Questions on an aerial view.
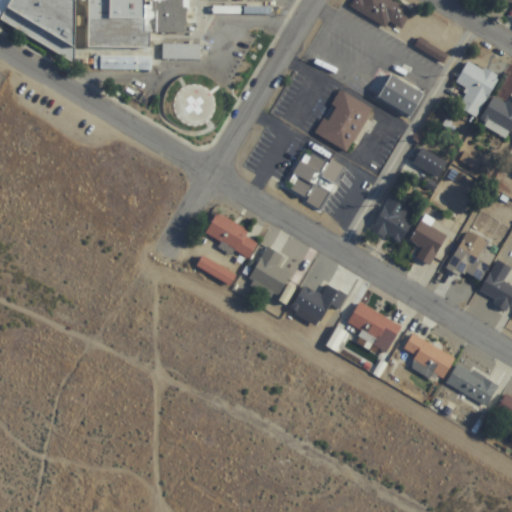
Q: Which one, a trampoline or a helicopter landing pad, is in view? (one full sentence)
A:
I can see a helicopter landing pad in this picture.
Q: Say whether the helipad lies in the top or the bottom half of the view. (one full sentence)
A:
It is in the top half that the helipad appears.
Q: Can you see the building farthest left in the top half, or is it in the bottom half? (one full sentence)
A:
The top half of the photo is where the building farthest left is.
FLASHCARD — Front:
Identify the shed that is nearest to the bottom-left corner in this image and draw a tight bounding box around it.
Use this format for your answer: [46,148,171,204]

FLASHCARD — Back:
[196,256,237,286]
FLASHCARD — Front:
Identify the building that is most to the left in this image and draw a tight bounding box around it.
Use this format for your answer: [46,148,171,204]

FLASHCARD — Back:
[0,0,74,60]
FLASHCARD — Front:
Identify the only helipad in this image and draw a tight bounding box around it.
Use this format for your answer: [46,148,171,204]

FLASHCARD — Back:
[164,74,224,134]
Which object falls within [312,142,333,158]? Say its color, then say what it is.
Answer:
white vehicle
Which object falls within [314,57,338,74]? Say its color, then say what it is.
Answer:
white vehicle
